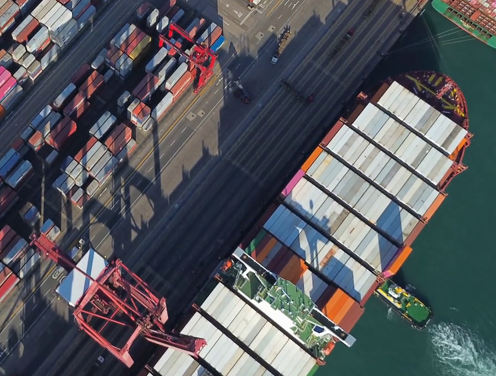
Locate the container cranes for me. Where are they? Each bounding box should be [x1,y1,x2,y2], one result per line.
[22,218,215,376]
[153,21,221,95]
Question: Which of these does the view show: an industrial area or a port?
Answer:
port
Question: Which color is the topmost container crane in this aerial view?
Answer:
red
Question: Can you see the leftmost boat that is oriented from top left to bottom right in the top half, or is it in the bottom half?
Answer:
bottom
